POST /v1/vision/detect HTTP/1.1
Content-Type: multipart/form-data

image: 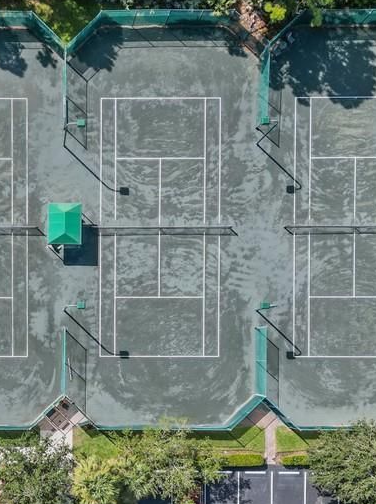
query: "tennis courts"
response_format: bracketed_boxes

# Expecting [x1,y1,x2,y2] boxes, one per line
[256,27,376,426]
[0,27,65,425]
[64,27,257,426]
